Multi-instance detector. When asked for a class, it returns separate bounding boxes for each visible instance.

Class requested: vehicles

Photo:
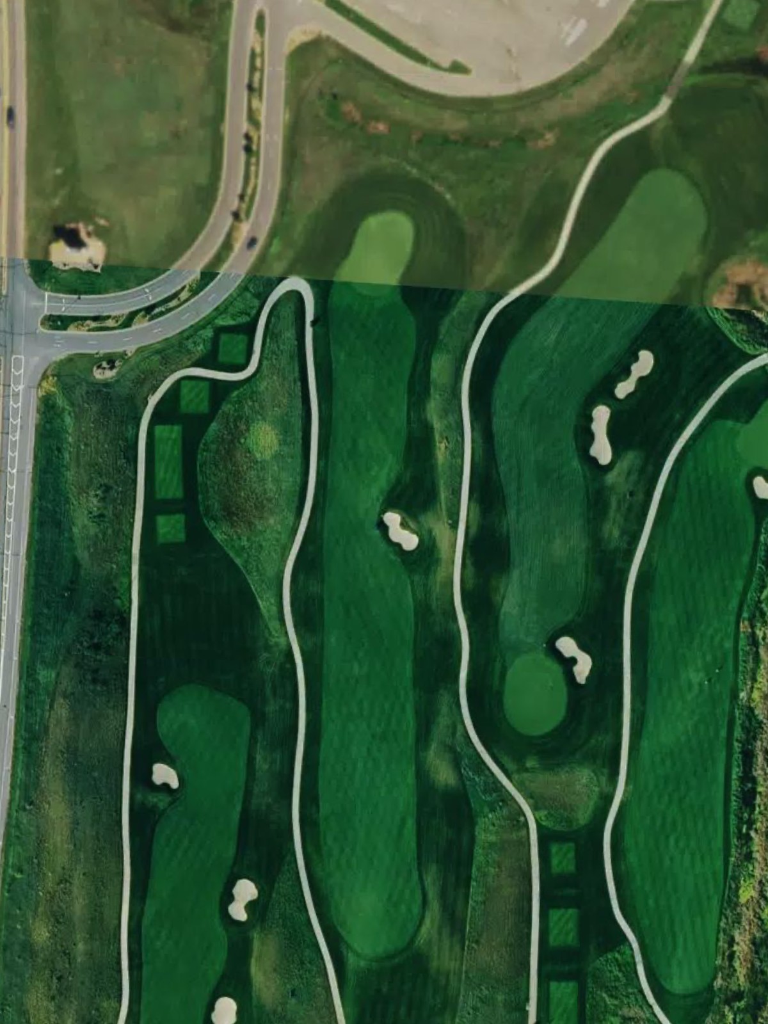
[246,235,257,250]
[7,108,14,123]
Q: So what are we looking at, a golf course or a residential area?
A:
golf course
